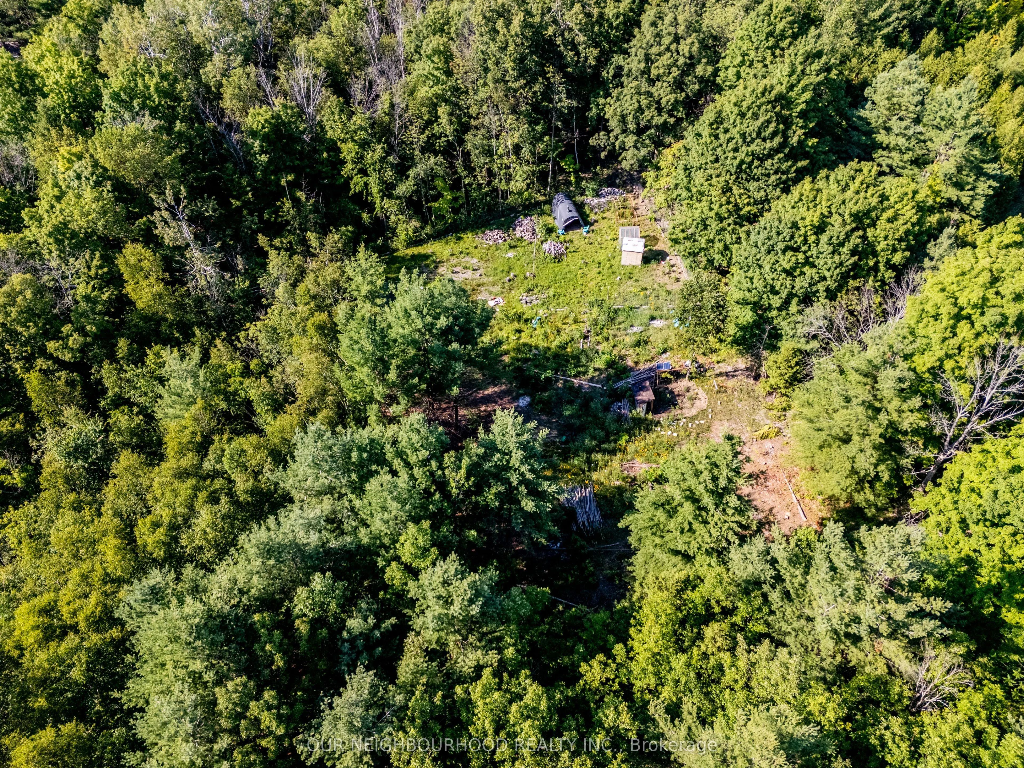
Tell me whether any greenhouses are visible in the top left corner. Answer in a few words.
No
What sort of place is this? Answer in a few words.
forest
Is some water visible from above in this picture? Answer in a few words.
No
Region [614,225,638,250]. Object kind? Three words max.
greenhouse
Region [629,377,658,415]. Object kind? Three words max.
shed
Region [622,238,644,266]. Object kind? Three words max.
shed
